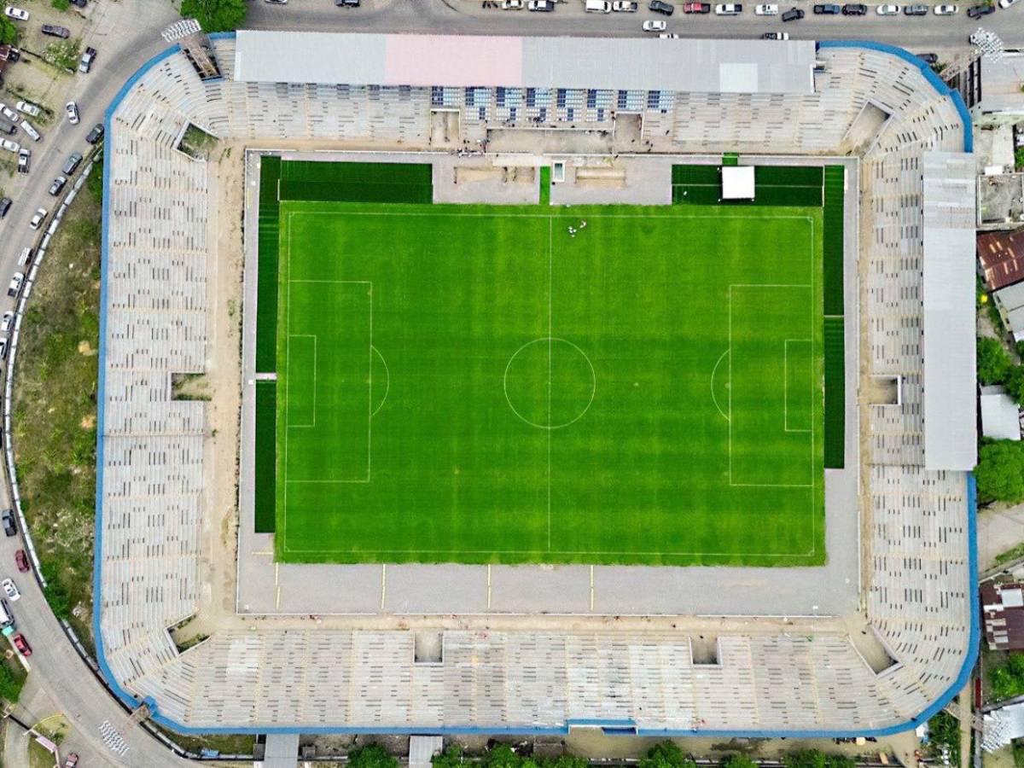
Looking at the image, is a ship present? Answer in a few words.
No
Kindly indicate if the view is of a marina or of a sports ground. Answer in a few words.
sports ground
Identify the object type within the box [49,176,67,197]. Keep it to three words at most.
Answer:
car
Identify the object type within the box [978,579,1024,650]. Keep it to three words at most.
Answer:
house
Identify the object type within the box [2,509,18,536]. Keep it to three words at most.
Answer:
vehicle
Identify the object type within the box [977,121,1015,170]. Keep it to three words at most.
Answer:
house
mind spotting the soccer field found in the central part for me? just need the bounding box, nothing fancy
[255,153,844,566]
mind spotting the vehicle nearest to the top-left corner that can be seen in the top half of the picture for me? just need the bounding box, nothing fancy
[7,6,30,21]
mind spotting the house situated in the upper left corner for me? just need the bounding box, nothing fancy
[0,46,29,79]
